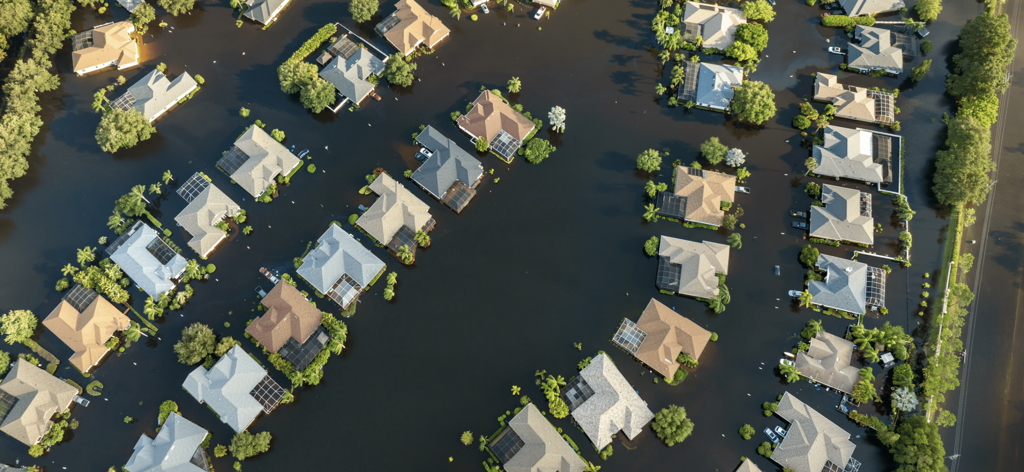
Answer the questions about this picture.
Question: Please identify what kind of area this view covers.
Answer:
residential area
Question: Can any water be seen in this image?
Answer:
Yes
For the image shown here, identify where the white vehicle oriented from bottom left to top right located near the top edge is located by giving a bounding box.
[533,5,547,20]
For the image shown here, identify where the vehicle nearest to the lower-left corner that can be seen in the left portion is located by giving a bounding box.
[74,396,91,409]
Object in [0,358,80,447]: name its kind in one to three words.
house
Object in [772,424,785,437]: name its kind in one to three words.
vehicle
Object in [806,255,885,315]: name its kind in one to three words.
house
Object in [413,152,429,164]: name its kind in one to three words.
vehicle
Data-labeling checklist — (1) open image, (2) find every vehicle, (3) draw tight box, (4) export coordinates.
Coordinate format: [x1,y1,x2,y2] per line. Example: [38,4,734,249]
[257,265,273,281]
[481,4,489,15]
[253,284,268,298]
[818,11,832,18]
[533,5,547,20]
[413,152,429,164]
[735,185,753,194]
[787,290,804,297]
[357,203,369,214]
[790,221,809,230]
[370,92,382,102]
[763,428,780,445]
[420,147,434,159]
[297,147,310,159]
[772,424,785,437]
[779,359,796,365]
[788,210,808,219]
[74,396,91,409]
[270,274,280,284]
[827,47,847,57]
